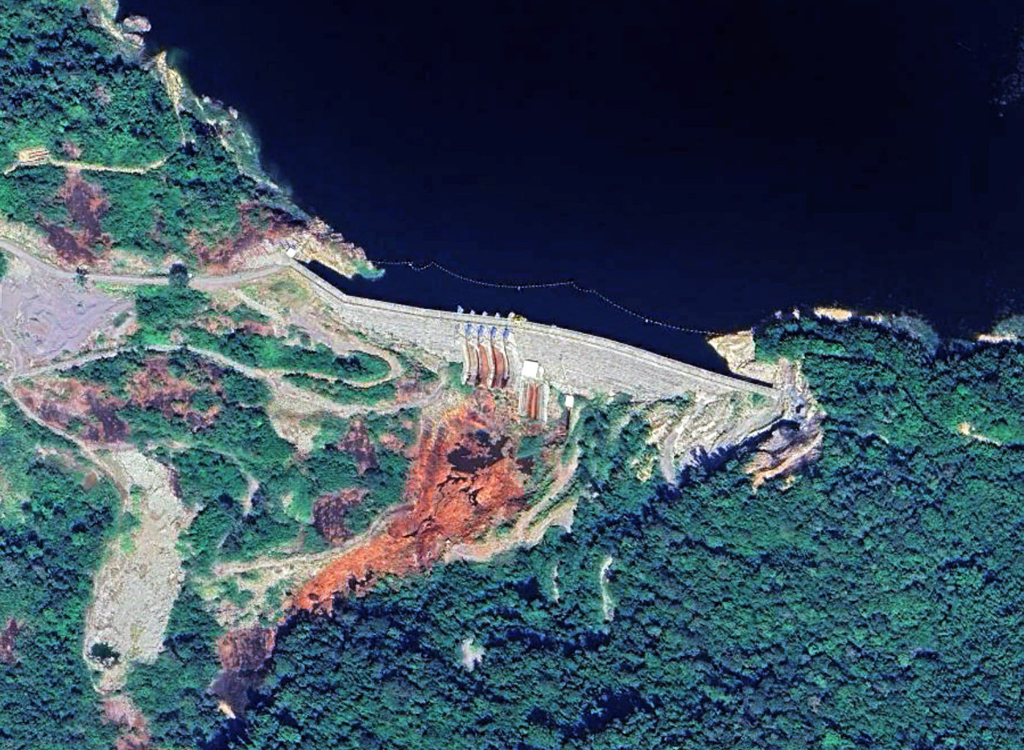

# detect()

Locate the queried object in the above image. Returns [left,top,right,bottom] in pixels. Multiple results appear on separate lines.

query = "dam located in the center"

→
[288,257,777,401]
